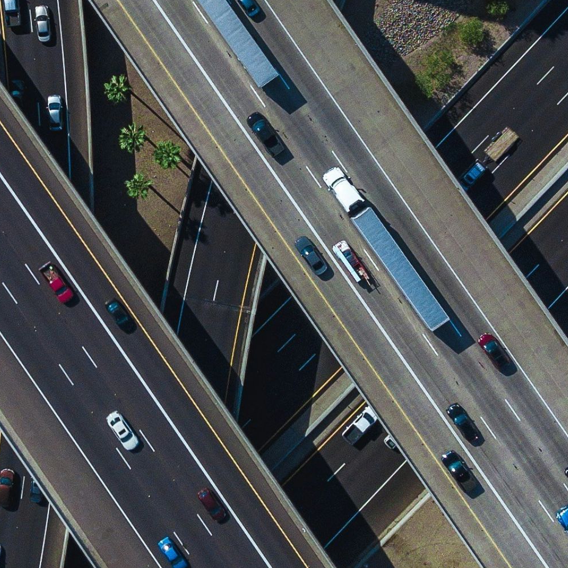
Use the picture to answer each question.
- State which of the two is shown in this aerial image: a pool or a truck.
truck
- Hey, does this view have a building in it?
No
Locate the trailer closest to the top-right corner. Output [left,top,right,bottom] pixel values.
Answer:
[481,126,519,164]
